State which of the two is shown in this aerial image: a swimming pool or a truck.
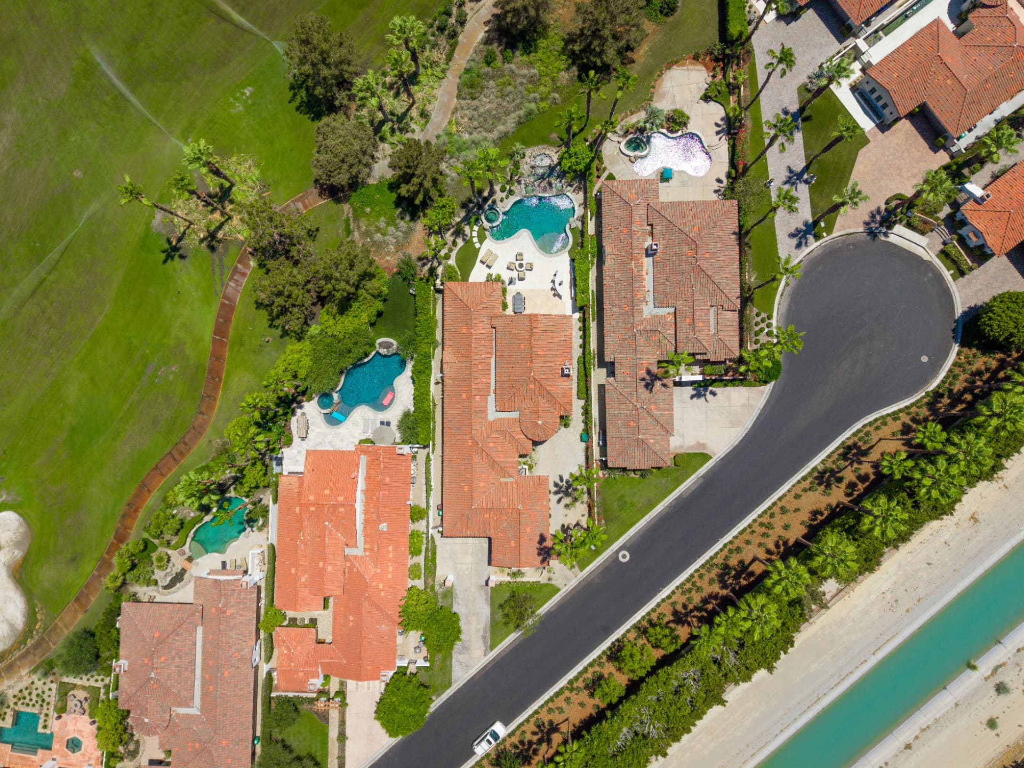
swimming pool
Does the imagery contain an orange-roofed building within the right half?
Yes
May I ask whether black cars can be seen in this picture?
No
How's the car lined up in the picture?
at an angle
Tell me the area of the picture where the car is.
bottom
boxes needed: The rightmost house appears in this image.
[947,160,1024,259]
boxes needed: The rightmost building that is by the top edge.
[855,0,1024,142]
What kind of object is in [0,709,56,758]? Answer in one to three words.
swimming pool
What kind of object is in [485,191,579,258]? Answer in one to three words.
swimming pool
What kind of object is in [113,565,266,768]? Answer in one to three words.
house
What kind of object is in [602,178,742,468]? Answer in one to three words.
house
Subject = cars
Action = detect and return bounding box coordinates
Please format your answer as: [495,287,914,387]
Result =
[467,721,509,763]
